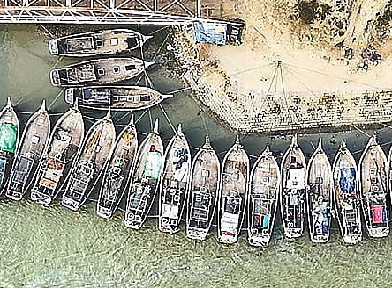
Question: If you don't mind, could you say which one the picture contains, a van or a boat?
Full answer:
This aerial view contains a boat.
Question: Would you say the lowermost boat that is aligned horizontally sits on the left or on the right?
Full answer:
The lowermost boat that is aligned horizontally sits on the left side.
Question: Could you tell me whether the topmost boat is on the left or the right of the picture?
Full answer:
It is on the left.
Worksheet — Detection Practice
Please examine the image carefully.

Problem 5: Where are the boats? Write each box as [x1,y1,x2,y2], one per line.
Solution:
[359,132,390,238]
[32,98,82,205]
[332,140,362,245]
[159,124,190,234]
[96,115,138,219]
[50,31,152,59]
[62,109,113,211]
[124,119,162,230]
[52,57,155,89]
[305,138,332,245]
[216,136,249,246]
[6,100,49,200]
[279,134,306,238]
[186,135,218,241]
[0,97,19,199]
[246,145,280,247]
[67,85,173,110]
